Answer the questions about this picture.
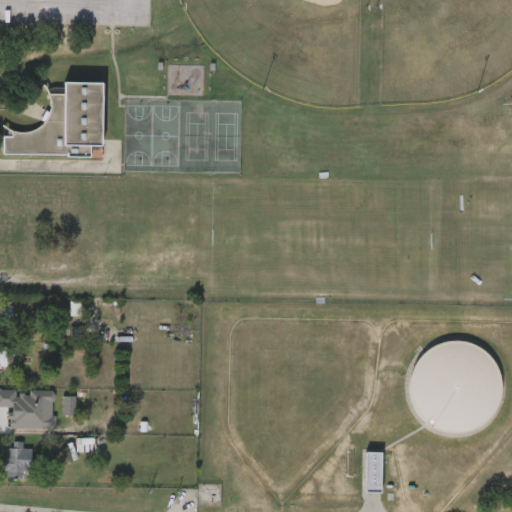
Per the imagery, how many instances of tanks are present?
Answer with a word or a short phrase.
1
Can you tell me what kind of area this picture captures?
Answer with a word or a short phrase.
sports ground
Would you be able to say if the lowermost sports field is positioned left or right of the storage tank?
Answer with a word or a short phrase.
left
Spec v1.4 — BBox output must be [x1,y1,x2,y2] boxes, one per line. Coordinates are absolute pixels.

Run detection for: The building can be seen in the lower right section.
[366,452,384,493]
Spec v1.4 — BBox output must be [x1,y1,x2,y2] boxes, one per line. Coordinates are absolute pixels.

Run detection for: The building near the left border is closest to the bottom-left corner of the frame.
[6,442,33,480]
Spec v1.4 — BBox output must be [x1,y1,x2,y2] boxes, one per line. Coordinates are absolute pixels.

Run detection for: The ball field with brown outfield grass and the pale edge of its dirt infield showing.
[180,0,360,108]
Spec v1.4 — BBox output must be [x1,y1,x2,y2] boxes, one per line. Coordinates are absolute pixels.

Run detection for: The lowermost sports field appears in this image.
[230,320,379,498]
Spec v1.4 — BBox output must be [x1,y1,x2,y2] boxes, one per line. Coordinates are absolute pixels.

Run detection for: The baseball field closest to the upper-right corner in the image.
[382,0,512,106]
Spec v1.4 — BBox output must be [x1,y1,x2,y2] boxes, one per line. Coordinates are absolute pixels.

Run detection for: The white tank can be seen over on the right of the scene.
[405,338,504,438]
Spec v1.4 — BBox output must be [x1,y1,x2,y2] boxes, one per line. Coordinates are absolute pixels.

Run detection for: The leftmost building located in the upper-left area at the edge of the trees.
[4,82,104,157]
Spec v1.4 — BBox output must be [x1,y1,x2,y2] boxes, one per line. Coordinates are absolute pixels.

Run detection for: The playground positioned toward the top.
[168,65,204,96]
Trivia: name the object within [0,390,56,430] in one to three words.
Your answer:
house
